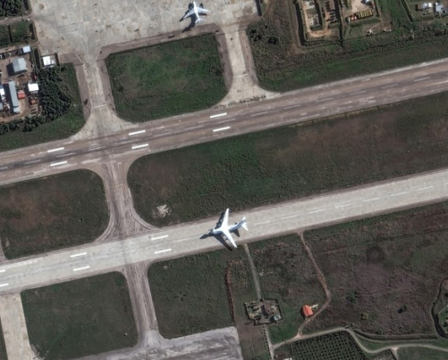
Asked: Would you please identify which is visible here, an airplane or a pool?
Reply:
airplane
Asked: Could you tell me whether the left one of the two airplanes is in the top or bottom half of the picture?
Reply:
top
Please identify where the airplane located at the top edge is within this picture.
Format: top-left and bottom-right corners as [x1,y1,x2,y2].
[184,0,210,24]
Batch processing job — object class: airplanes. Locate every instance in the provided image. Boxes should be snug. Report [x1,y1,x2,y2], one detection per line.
[184,0,210,24]
[210,207,248,246]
